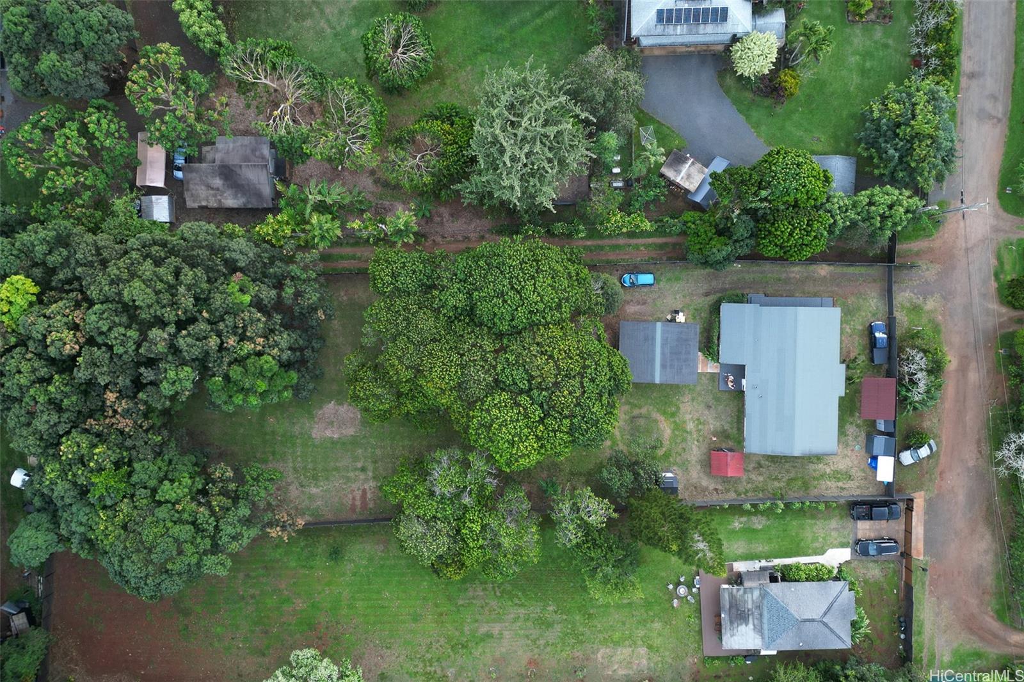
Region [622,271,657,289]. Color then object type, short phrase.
blue car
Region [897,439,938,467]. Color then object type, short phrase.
white car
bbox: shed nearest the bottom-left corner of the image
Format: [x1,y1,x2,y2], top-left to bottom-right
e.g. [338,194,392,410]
[0,595,38,623]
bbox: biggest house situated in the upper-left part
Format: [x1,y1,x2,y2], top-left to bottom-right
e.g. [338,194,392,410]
[182,137,275,209]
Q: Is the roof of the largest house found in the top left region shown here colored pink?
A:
No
